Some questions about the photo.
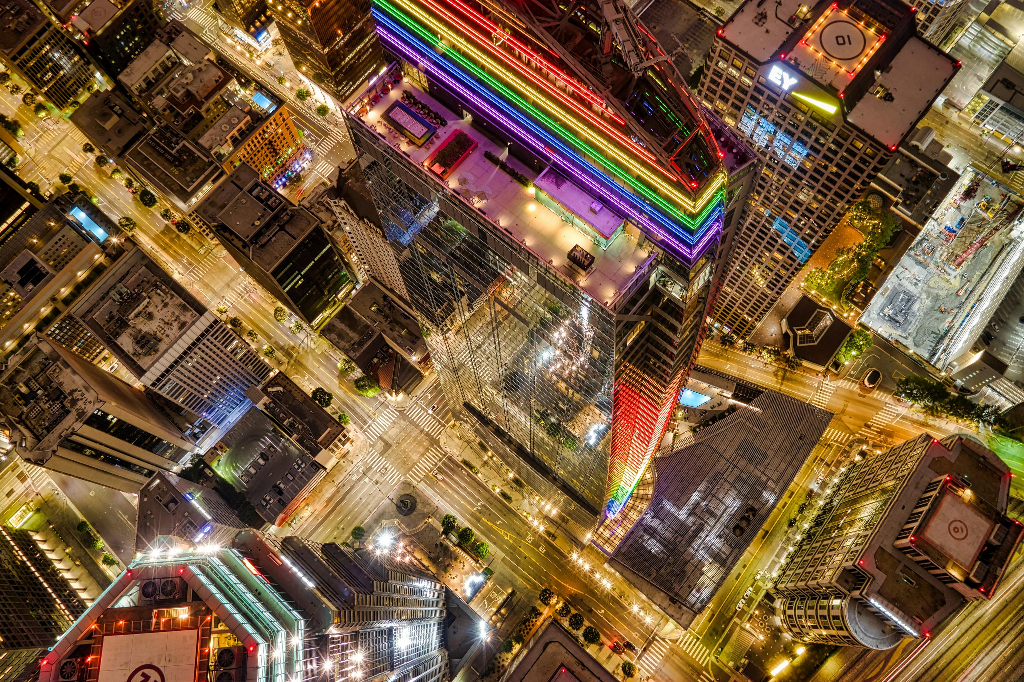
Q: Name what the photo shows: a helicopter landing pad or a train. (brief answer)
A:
helicopter landing pad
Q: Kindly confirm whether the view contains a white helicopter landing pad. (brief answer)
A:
No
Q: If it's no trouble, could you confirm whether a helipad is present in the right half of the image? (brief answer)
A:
Yes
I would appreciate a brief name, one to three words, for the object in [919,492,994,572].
helipad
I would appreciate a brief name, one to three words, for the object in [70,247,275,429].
building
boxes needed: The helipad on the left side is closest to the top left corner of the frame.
[78,0,125,39]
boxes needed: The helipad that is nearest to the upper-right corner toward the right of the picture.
[801,4,887,77]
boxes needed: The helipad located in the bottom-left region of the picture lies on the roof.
[98,628,201,682]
